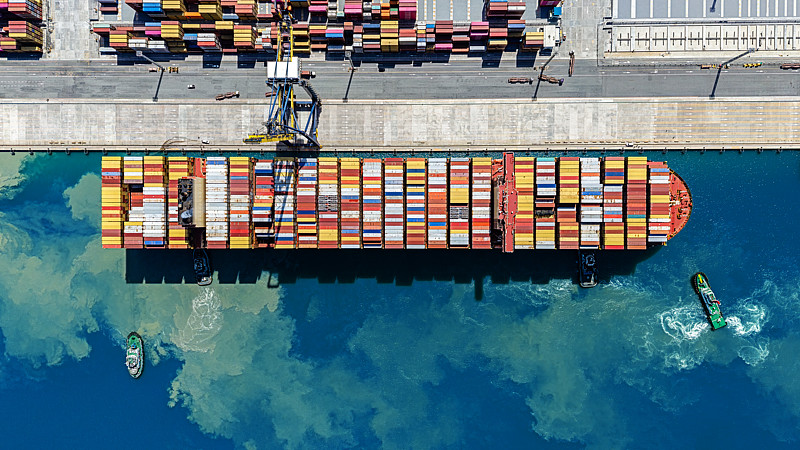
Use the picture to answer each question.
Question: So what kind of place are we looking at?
port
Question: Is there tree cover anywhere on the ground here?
No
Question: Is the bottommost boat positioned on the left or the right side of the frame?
left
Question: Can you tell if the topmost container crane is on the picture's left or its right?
left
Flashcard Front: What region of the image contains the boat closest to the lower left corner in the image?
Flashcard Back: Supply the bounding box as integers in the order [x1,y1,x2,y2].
[123,332,144,380]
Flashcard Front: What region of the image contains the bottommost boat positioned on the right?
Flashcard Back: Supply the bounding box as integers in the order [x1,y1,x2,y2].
[695,271,728,332]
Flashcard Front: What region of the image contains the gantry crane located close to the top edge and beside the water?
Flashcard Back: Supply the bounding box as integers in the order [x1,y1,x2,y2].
[235,11,321,148]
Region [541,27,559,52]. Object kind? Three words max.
shed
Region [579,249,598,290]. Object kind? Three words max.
boat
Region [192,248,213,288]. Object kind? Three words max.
boat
